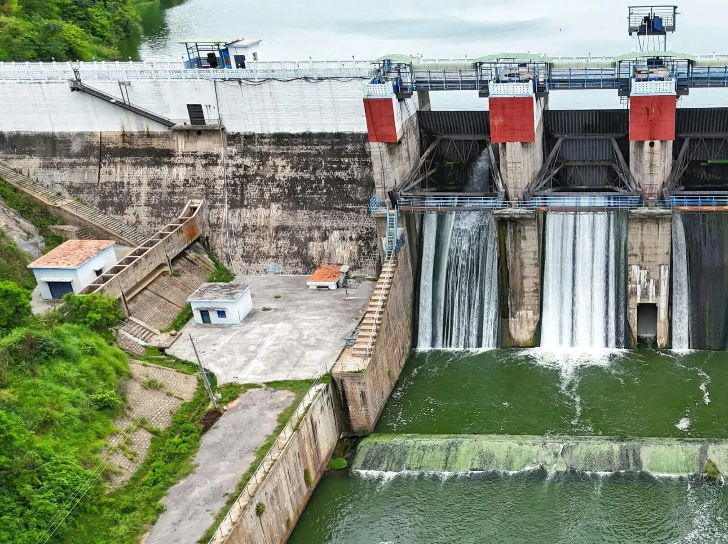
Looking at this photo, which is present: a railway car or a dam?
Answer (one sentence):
I can see a dam in this picture.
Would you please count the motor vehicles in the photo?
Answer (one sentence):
There are no motor vehicles in this view.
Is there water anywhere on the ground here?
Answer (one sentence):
Yes, there is water in the image.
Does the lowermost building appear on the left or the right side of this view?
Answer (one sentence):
The lowermost building is on the left side of the image.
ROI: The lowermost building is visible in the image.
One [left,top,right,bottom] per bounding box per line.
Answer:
[185,284,253,325]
